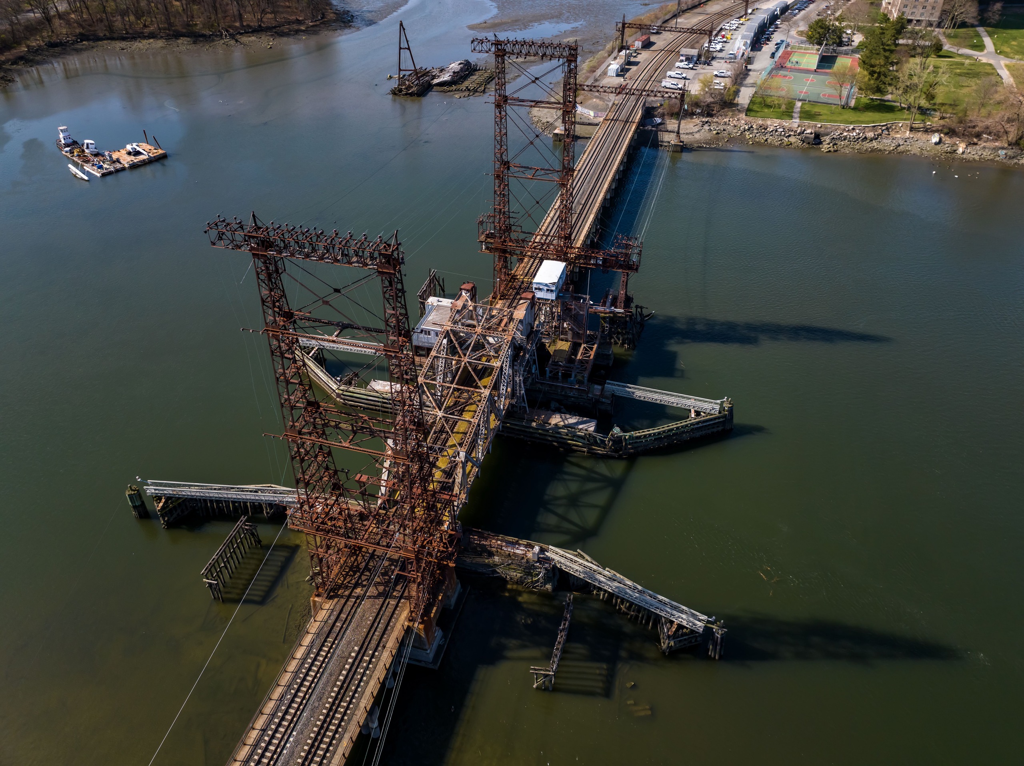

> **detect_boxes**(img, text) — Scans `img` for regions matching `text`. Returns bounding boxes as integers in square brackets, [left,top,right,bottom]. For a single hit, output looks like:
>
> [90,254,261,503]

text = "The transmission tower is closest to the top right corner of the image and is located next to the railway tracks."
[467,30,592,304]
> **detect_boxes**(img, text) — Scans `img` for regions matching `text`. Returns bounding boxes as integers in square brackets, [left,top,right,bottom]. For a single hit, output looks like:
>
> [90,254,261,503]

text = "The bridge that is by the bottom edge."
[222,525,444,766]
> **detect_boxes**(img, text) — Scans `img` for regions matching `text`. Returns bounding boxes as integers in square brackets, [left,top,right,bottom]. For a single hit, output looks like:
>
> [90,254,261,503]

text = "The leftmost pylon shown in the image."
[197,210,467,623]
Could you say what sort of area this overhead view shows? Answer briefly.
port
